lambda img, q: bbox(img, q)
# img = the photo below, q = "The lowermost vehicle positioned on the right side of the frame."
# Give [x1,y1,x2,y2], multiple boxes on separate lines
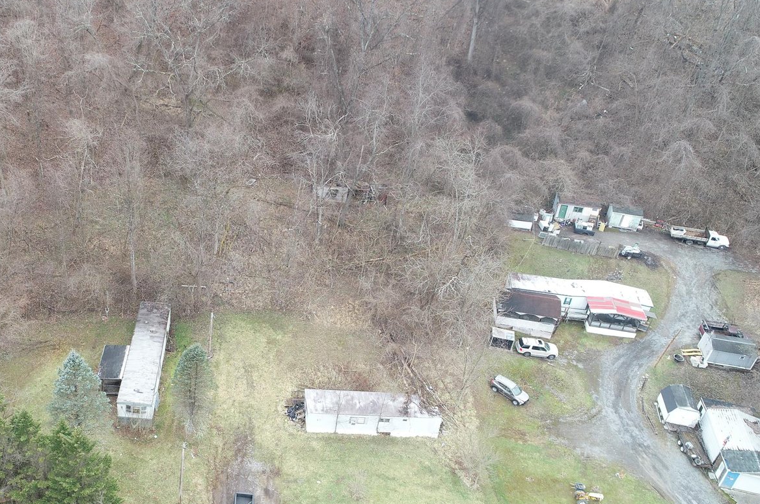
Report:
[573,482,609,504]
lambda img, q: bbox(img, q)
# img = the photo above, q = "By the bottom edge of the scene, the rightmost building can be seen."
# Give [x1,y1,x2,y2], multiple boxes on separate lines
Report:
[696,391,760,495]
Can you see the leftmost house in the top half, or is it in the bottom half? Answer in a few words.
bottom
